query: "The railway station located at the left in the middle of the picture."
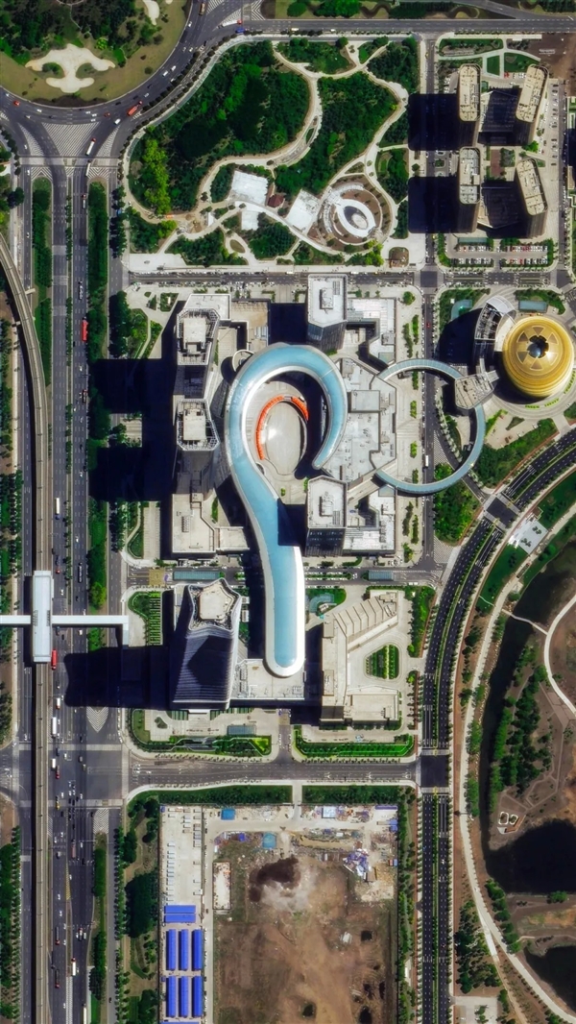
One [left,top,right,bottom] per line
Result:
[33,571,53,666]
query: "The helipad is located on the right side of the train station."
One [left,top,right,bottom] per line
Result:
[199,584,234,623]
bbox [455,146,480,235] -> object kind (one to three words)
building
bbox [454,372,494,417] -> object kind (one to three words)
building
